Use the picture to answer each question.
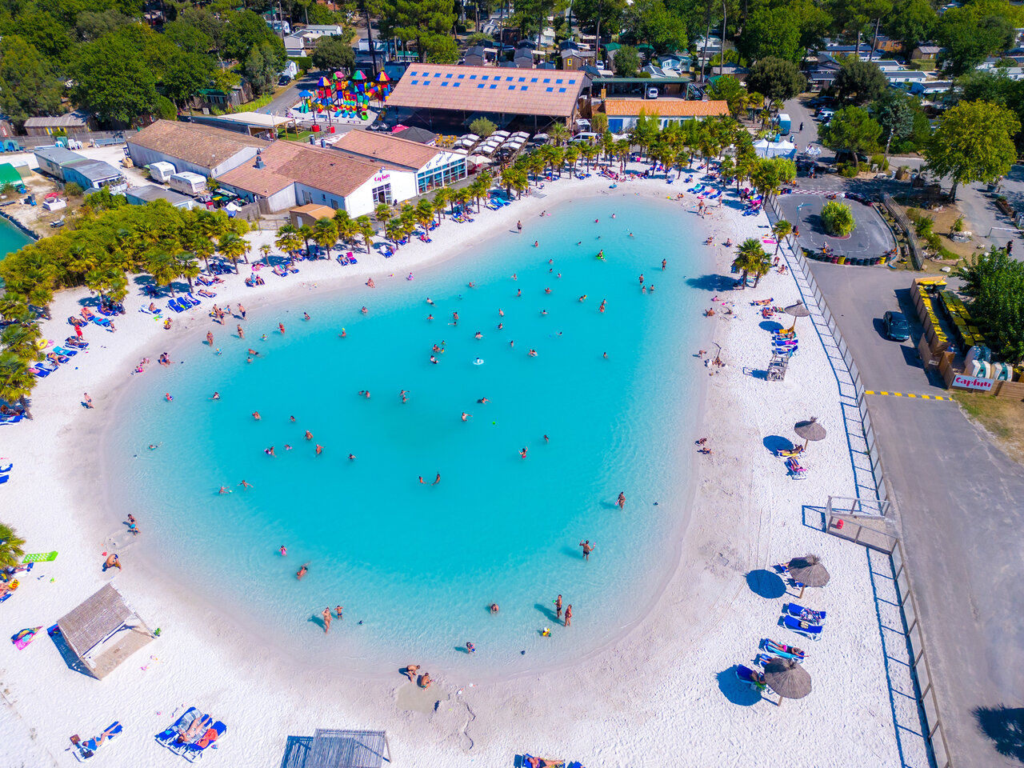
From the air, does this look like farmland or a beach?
beach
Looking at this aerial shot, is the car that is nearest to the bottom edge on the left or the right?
right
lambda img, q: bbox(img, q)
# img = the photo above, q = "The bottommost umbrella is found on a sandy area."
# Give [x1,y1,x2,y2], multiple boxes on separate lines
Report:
[762,658,817,708]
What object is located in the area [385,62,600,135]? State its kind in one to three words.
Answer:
building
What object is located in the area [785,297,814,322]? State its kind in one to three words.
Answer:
umbrella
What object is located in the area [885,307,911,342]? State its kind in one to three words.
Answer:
car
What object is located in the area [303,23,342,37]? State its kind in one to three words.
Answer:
house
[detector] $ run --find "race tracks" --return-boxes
[778,191,894,264]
